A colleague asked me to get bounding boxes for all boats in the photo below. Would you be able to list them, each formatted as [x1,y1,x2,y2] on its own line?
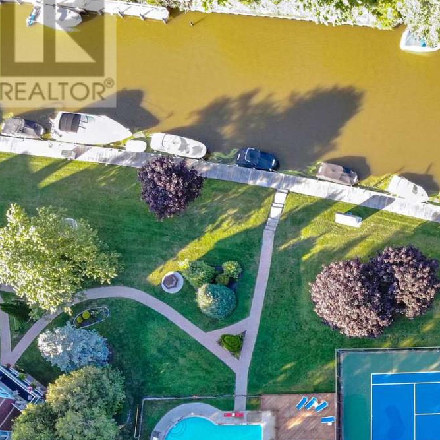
[315,160,358,183]
[125,139,148,150]
[0,117,46,138]
[49,109,134,155]
[34,7,83,30]
[235,148,279,171]
[390,175,430,203]
[400,40,440,58]
[148,130,207,161]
